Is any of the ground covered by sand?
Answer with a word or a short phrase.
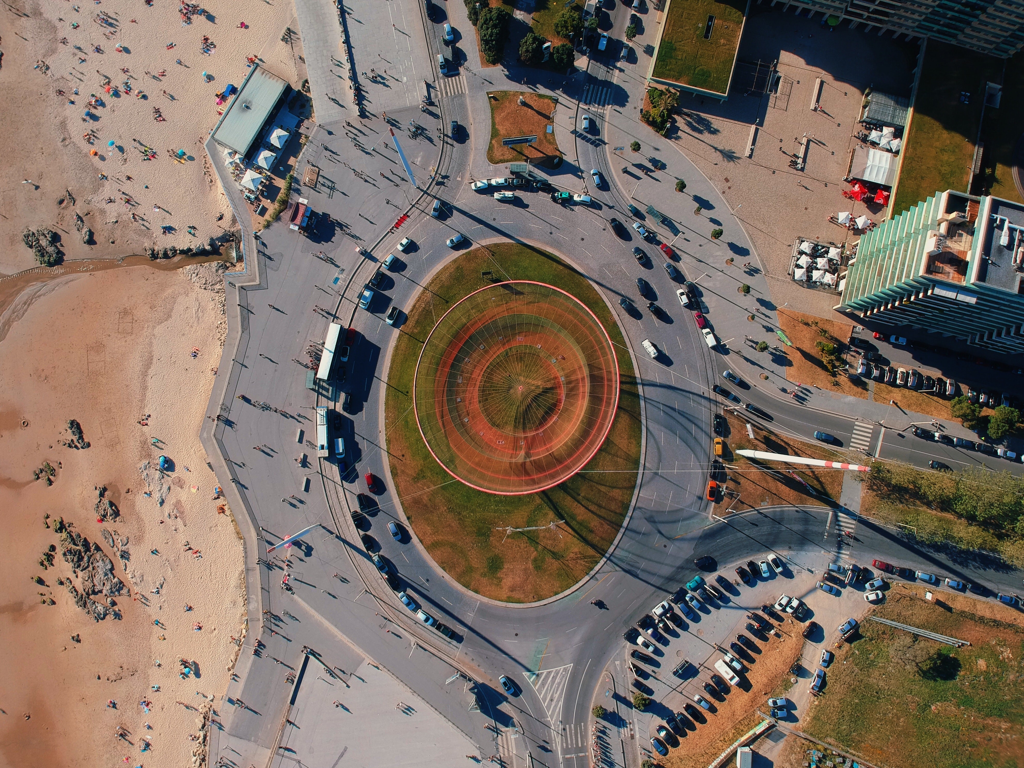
Yes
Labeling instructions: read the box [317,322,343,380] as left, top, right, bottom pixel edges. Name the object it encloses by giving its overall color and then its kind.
white bus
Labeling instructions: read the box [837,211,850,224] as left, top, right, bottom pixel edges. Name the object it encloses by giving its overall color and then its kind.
white umbrella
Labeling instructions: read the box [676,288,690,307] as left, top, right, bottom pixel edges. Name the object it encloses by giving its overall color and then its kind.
white car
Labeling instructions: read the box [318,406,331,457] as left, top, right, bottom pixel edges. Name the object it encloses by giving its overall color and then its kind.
white train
